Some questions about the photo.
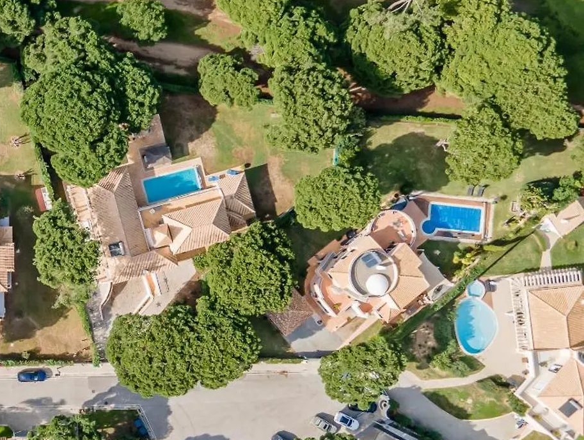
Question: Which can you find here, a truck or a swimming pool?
swimming pool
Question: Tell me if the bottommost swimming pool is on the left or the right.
right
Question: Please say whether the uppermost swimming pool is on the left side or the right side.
left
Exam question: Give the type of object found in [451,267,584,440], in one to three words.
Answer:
house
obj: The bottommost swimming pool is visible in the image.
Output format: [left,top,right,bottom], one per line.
[454,295,500,356]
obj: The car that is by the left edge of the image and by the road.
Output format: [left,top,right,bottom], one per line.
[18,368,48,384]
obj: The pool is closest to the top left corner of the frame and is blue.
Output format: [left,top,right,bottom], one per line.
[140,164,205,206]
